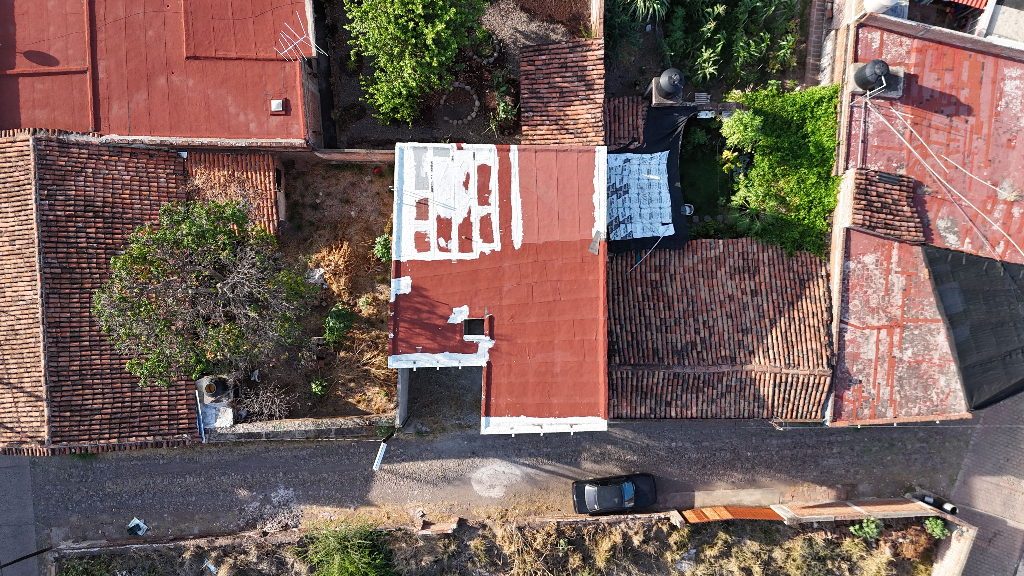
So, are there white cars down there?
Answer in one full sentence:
No, the photo shows no white car.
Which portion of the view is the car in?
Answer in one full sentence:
You can find the car in the bottom area of the picture.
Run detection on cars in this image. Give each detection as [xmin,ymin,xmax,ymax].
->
[569,471,660,515]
